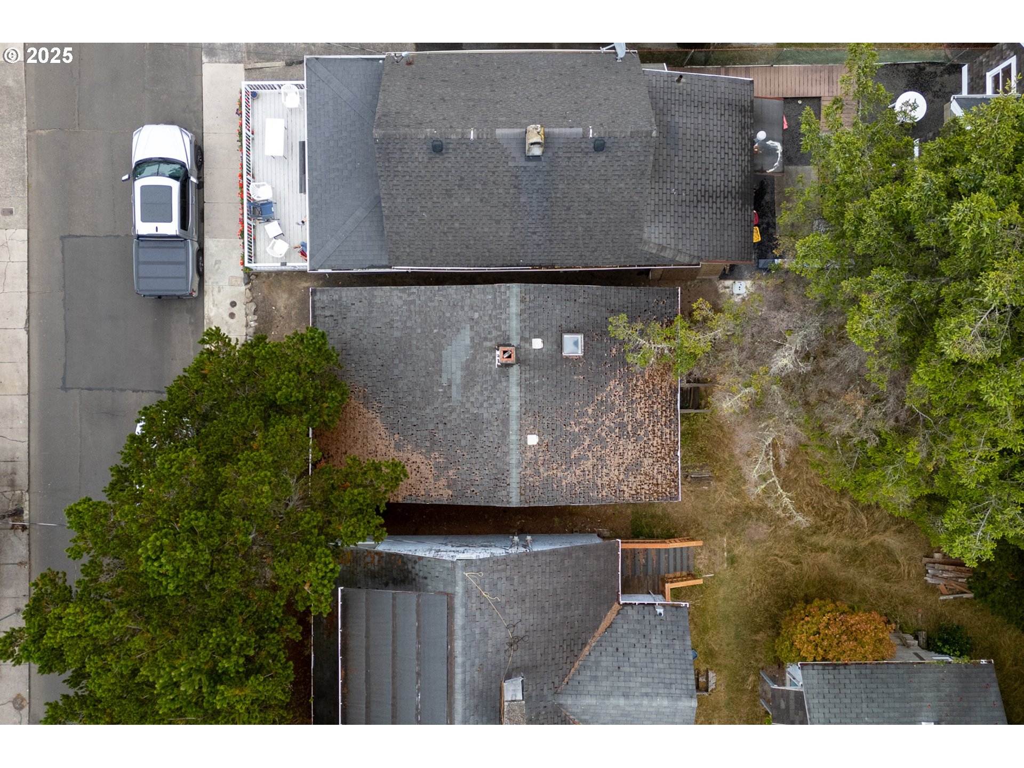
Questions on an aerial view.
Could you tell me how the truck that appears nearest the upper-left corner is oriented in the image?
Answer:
from top to bottom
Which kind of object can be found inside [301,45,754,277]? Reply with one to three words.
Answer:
house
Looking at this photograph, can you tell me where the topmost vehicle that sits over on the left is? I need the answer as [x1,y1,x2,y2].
[123,124,205,302]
